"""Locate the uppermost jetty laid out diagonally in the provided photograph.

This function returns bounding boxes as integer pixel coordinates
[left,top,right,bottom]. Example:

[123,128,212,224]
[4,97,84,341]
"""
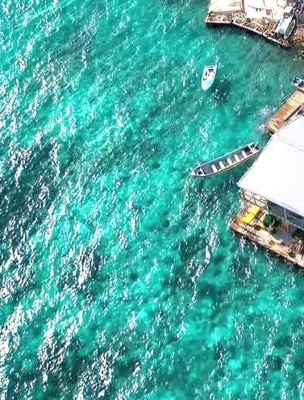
[268,91,304,136]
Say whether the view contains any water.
Yes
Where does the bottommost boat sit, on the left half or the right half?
right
